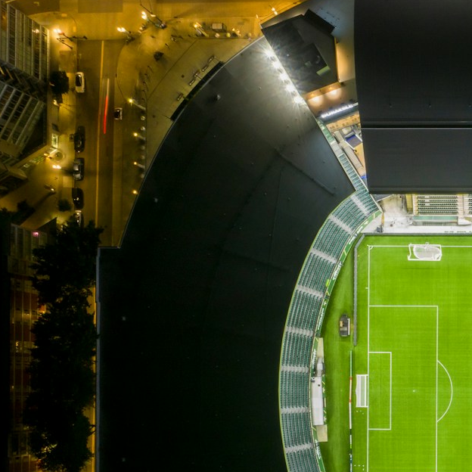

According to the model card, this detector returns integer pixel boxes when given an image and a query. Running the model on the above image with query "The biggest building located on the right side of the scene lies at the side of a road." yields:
[263,9,353,98]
